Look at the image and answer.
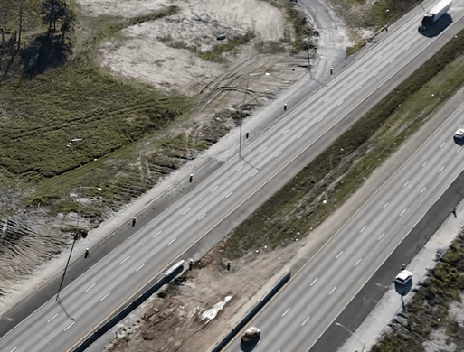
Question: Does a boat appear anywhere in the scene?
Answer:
No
